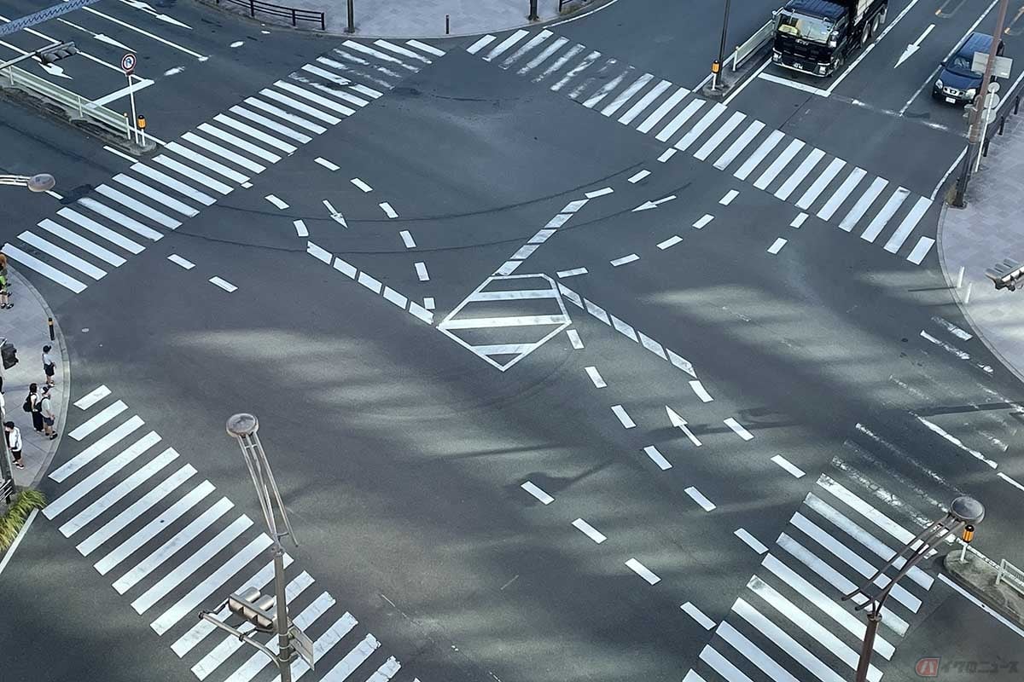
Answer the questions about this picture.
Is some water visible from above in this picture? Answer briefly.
No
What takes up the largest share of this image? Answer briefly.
paved ground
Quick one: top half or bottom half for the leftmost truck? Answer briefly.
top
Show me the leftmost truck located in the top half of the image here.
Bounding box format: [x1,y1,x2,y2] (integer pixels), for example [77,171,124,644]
[766,0,888,75]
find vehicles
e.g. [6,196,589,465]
[766,0,888,75]
[932,33,1006,109]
